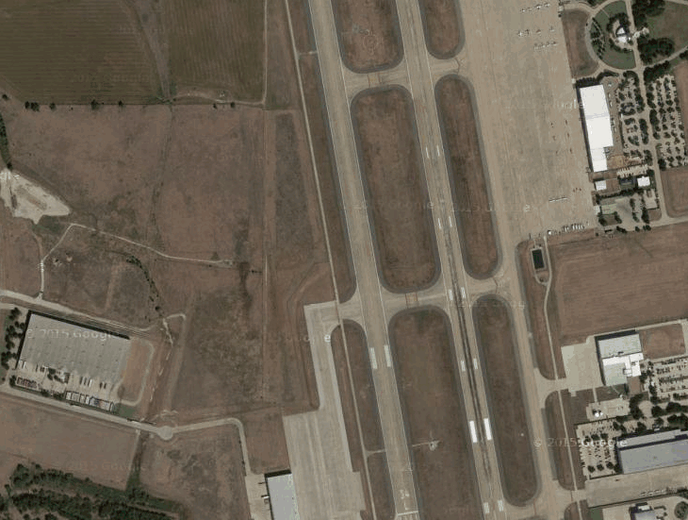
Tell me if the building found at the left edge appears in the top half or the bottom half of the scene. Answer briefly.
bottom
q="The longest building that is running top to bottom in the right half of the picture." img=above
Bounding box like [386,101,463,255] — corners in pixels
[581,85,614,172]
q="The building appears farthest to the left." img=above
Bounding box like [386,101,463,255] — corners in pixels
[19,314,130,382]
